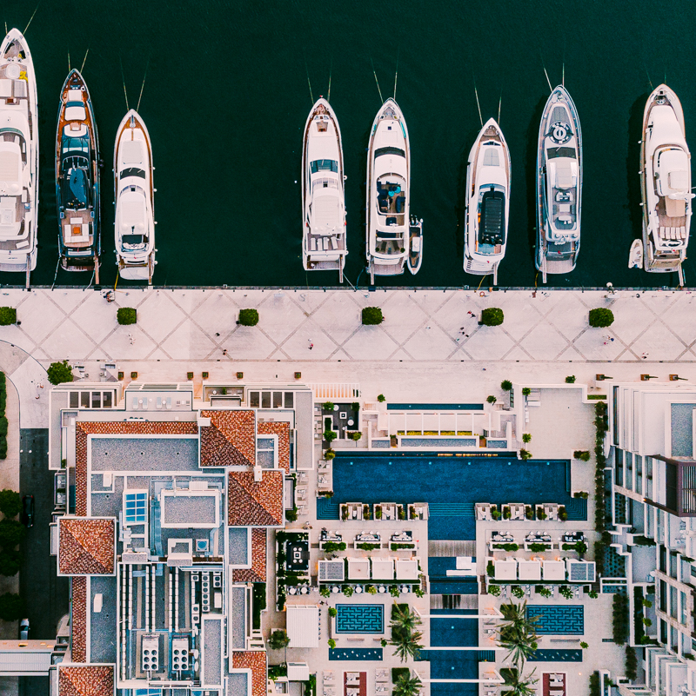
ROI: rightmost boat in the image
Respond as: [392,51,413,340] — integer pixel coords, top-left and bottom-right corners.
[638,70,696,289]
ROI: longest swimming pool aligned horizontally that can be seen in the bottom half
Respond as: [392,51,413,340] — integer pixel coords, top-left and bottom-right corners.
[315,458,588,540]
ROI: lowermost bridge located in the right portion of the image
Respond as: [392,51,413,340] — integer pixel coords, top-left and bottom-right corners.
[430,594,478,609]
